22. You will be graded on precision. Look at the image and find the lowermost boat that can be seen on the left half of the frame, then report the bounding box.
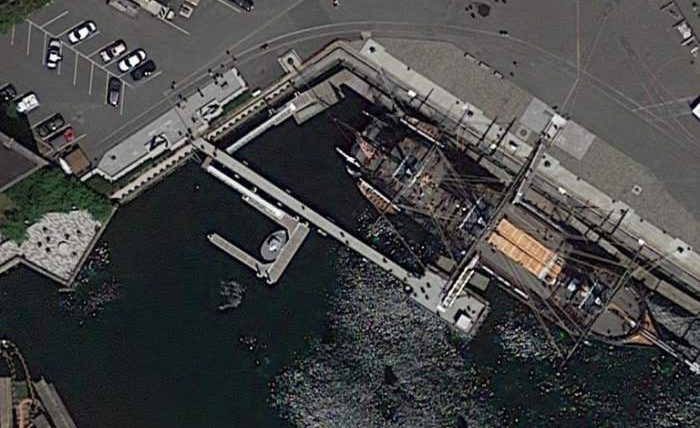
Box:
[260,230,286,258]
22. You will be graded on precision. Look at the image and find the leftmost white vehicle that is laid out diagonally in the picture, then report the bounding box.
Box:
[13,91,40,113]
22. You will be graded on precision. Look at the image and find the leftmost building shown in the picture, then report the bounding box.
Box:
[0,129,48,193]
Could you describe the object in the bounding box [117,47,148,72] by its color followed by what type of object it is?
white car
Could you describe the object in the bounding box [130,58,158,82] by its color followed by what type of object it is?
black car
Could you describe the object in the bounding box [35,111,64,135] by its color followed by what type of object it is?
black car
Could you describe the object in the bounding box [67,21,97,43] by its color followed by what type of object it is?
white car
